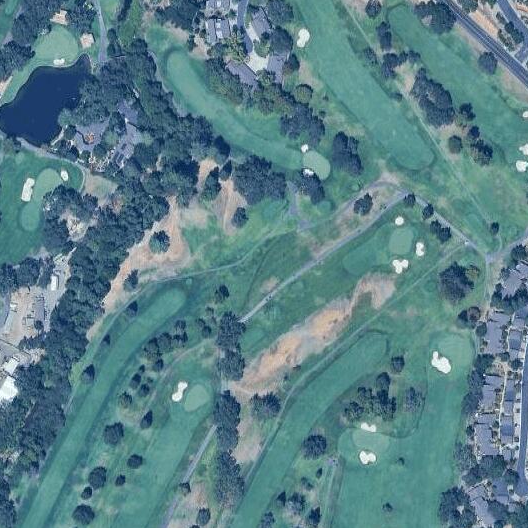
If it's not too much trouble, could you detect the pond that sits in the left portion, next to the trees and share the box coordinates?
[0,55,98,146]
